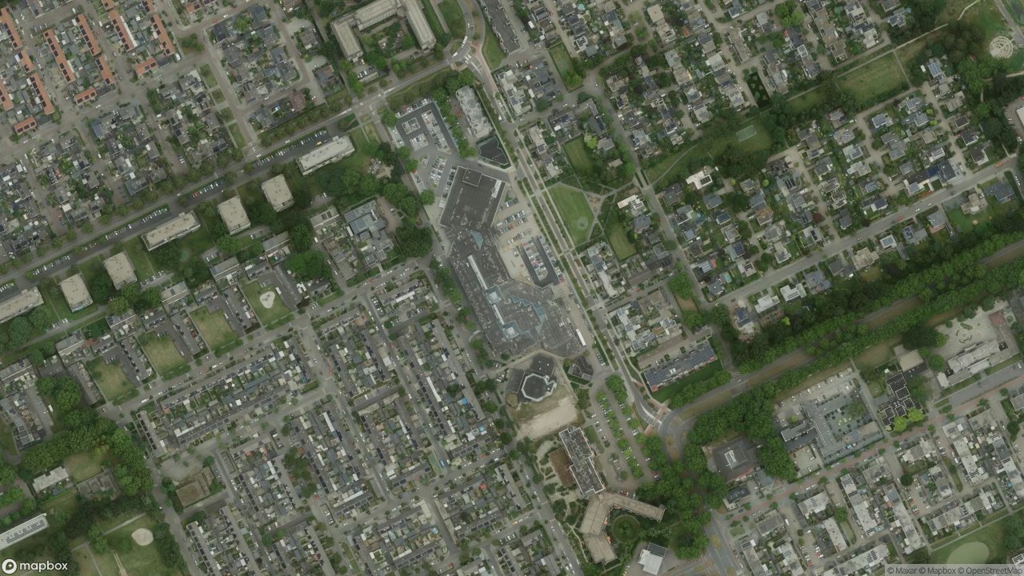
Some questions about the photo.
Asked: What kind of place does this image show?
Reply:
residential area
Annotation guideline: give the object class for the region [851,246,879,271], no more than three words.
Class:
house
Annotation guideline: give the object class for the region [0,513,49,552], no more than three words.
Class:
building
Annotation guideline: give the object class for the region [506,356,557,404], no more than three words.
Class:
building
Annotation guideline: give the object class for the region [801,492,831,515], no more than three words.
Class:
house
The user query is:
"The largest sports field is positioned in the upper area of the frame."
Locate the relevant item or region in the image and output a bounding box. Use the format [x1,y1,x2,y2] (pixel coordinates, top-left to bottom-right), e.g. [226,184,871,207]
[550,185,593,243]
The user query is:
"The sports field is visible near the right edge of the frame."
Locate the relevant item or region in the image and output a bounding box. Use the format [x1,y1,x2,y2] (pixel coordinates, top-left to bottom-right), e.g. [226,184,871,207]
[949,540,989,568]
